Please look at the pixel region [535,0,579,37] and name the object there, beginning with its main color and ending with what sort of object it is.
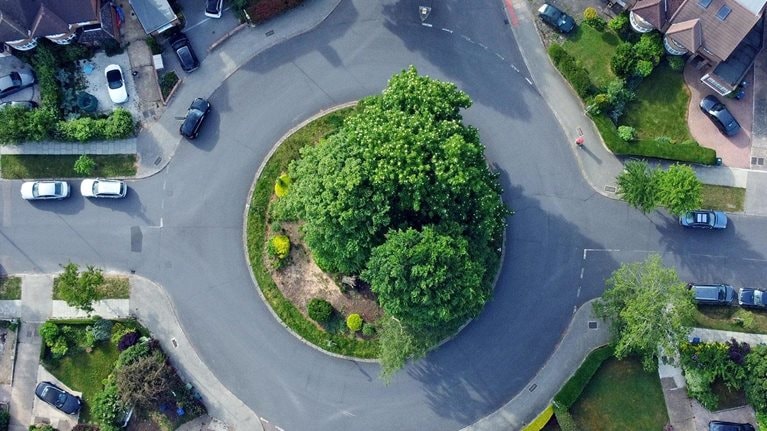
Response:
blue car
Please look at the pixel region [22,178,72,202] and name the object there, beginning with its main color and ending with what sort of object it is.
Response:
white car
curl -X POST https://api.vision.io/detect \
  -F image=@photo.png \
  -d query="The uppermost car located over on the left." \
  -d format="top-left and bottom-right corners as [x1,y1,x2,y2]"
[204,0,227,20]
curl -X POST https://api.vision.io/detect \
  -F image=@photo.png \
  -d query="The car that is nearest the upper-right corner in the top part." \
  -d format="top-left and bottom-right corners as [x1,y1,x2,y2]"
[699,95,742,139]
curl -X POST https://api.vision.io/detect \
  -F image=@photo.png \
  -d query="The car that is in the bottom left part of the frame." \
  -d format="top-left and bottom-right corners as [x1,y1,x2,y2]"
[32,380,82,414]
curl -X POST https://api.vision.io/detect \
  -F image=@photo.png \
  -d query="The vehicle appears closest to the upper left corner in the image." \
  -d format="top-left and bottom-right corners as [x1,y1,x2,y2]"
[0,70,35,99]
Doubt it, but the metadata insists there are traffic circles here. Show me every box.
[243,99,506,361]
